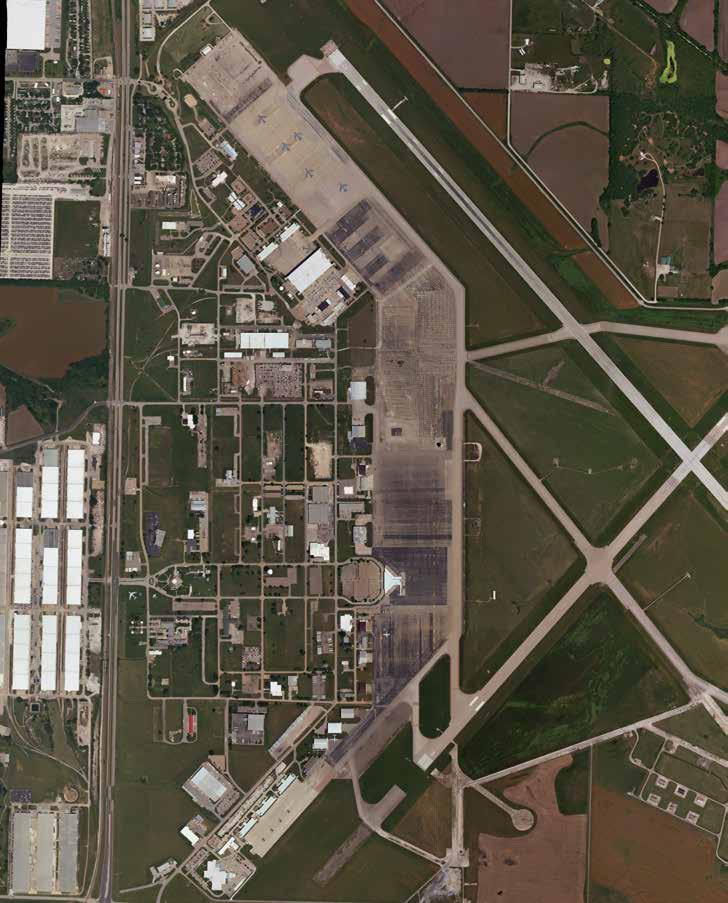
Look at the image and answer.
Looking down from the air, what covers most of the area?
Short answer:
grass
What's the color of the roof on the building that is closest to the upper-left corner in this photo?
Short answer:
white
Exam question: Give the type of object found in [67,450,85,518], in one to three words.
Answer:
building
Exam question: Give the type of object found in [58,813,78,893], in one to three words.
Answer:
building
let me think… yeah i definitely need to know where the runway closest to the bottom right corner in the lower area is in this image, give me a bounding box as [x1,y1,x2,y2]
[420,417,728,767]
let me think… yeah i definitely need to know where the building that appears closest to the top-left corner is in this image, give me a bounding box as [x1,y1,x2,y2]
[6,0,45,49]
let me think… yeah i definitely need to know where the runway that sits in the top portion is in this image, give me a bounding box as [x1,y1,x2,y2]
[329,47,728,512]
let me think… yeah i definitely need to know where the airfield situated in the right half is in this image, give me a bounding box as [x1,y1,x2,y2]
[183,29,728,887]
